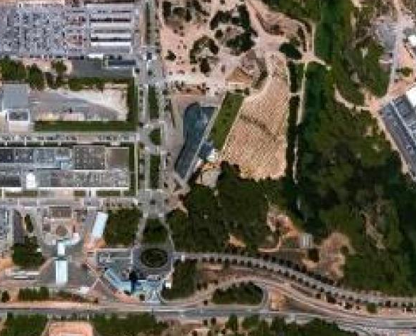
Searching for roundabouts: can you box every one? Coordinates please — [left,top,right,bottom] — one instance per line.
[132,244,176,276]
